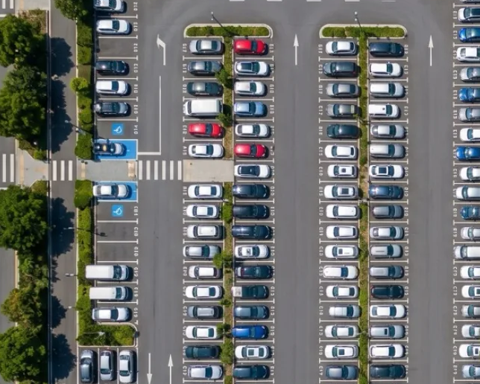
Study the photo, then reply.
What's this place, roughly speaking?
parking lot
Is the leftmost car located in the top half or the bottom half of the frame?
bottom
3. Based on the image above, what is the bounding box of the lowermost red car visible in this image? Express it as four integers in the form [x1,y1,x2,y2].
[234,141,268,157]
